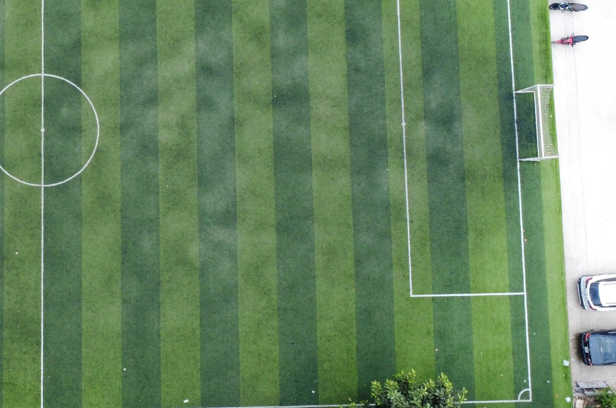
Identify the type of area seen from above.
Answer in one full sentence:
It's a sports ground.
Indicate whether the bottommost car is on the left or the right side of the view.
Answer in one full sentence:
It is on the right.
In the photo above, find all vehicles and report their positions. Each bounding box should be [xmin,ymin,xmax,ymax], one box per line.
[578,328,616,365]
[550,34,588,49]
[576,271,616,309]
[549,0,588,14]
